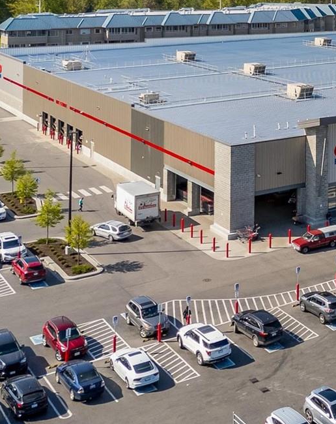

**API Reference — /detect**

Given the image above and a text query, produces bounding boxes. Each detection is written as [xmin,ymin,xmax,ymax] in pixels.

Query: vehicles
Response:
[12,260,46,285]
[265,409,306,424]
[100,178,153,225]
[124,300,168,340]
[55,363,106,408]
[178,327,232,368]
[0,330,29,383]
[1,379,48,424]
[83,221,137,243]
[292,226,336,254]
[303,388,336,424]
[0,202,6,219]
[109,352,162,395]
[44,320,87,361]
[0,230,26,263]
[298,294,336,327]
[233,313,285,350]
